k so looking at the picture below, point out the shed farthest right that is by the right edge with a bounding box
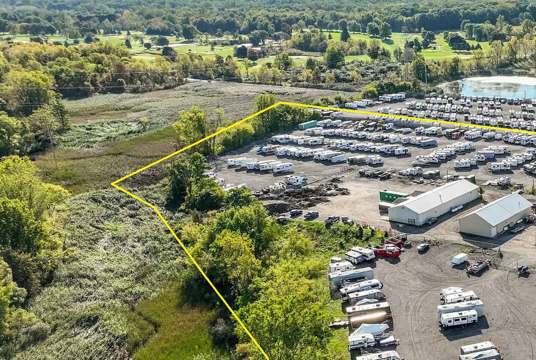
[457,196,533,237]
